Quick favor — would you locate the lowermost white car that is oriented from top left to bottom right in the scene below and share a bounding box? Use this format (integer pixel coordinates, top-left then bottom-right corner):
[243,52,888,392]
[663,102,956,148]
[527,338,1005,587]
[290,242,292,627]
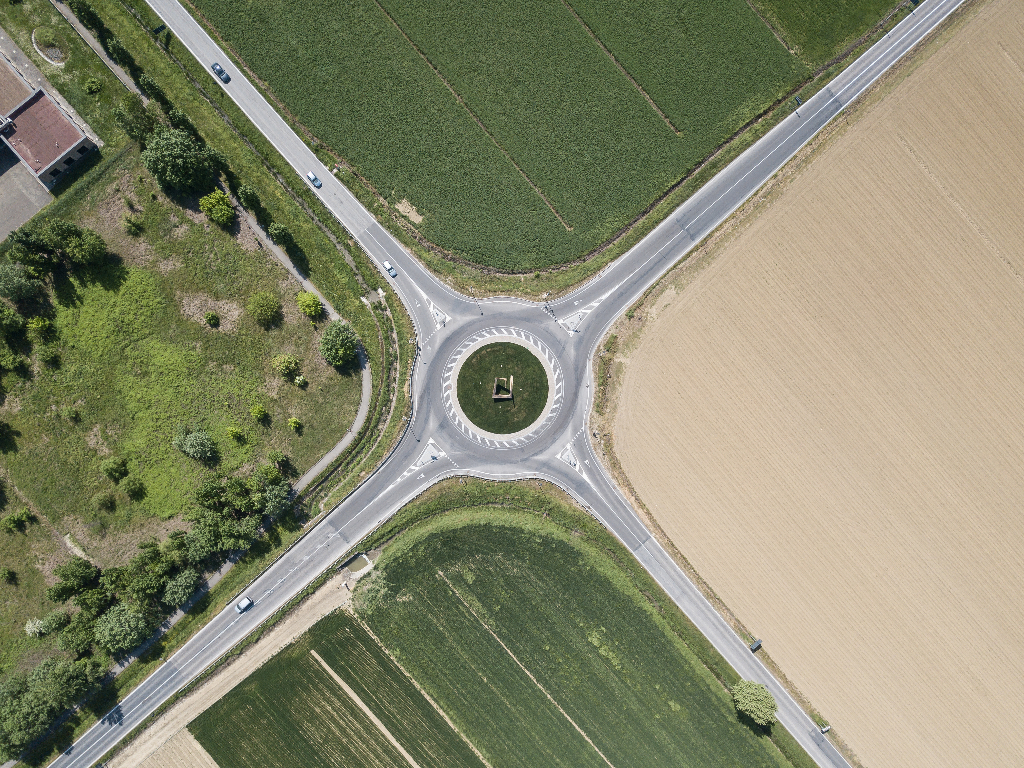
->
[380,258,397,277]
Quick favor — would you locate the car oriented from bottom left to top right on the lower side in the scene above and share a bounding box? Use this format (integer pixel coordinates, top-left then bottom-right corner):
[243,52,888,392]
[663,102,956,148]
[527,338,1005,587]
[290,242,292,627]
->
[233,596,252,614]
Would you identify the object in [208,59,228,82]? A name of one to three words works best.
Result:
car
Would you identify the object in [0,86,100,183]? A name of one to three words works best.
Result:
building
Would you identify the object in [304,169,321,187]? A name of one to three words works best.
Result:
car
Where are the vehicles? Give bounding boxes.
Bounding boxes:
[304,169,321,187]
[380,258,397,277]
[233,596,252,614]
[208,59,228,82]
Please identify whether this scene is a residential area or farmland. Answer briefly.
farmland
